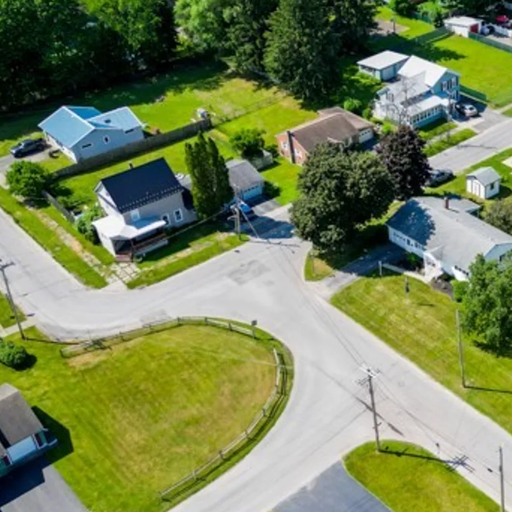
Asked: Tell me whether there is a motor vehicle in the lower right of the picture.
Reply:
No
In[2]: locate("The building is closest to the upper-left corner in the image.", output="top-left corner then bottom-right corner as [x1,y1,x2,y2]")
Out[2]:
[40,105,145,161]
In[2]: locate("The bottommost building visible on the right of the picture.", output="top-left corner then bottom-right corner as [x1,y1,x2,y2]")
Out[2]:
[388,193,512,283]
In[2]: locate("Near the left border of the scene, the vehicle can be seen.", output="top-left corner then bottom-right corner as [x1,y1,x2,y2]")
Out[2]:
[8,137,47,155]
